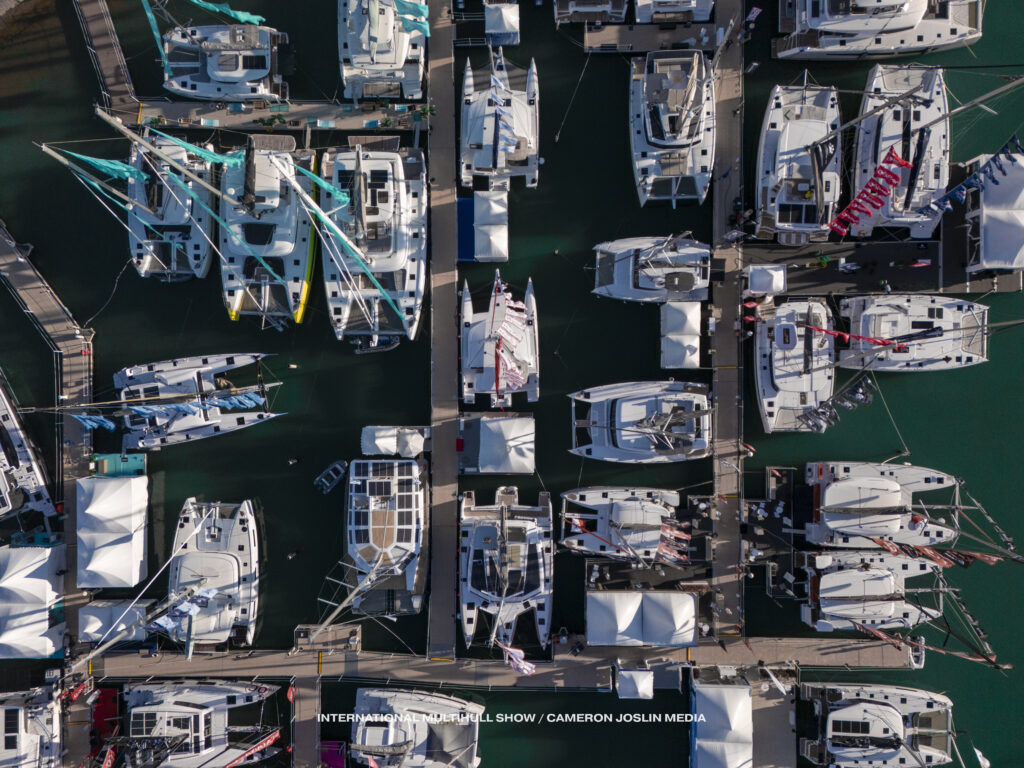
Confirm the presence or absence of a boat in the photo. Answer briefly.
Yes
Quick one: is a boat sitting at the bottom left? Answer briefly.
Yes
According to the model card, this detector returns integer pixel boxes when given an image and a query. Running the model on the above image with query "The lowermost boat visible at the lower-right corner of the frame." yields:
[799,684,967,768]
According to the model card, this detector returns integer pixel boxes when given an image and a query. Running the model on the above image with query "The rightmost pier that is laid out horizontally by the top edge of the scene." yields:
[584,24,716,54]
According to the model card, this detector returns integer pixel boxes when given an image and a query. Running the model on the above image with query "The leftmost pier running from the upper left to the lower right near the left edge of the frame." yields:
[0,220,95,353]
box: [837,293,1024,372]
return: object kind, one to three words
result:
boat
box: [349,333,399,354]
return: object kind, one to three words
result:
boat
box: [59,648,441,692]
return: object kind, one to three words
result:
pier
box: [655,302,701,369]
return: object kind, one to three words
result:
tent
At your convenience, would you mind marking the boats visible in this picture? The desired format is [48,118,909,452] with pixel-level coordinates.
[555,0,627,24]
[560,489,684,570]
[91,103,320,323]
[337,0,425,100]
[349,333,399,354]
[855,59,1024,238]
[800,552,1021,671]
[568,380,728,463]
[592,229,719,306]
[771,0,986,59]
[837,293,1024,372]
[138,0,289,99]
[9,353,291,453]
[295,459,427,653]
[37,141,211,279]
[757,297,900,432]
[267,136,432,341]
[799,684,967,768]
[0,370,60,533]
[632,15,735,200]
[0,686,60,768]
[456,486,553,662]
[87,684,285,768]
[340,690,483,768]
[637,0,712,24]
[910,636,925,672]
[805,463,1024,563]
[754,73,926,245]
[308,459,348,497]
[64,498,256,677]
